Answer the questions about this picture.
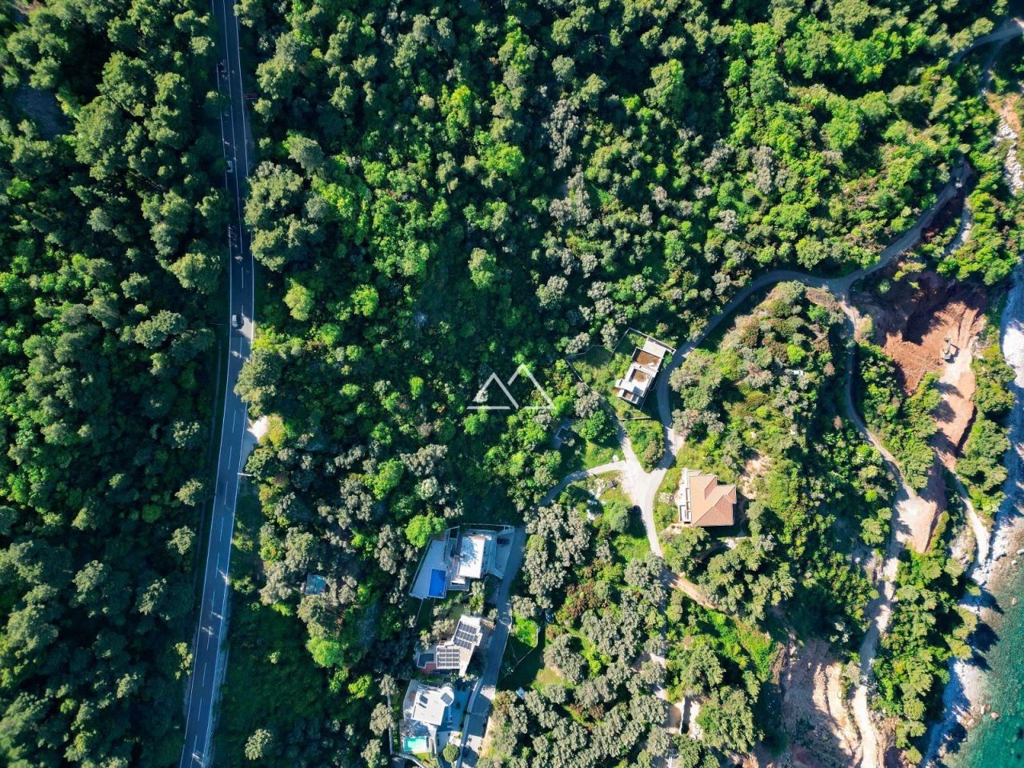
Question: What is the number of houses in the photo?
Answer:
5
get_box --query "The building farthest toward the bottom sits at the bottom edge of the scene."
[400,679,472,755]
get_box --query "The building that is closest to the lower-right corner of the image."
[674,468,737,526]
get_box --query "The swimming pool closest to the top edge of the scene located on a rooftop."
[427,568,448,598]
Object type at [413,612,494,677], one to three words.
house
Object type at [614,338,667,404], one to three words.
house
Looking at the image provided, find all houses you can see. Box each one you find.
[400,679,472,755]
[614,338,667,404]
[409,525,513,600]
[413,612,494,677]
[674,468,737,526]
